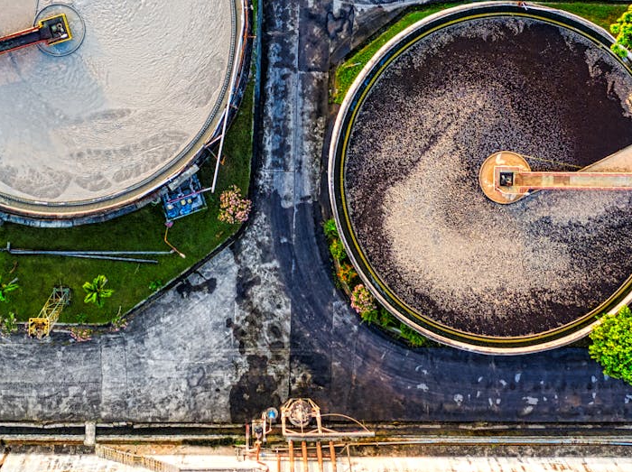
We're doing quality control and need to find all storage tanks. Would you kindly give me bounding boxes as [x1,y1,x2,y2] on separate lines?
[328,1,632,355]
[0,0,248,216]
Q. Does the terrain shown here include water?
Yes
